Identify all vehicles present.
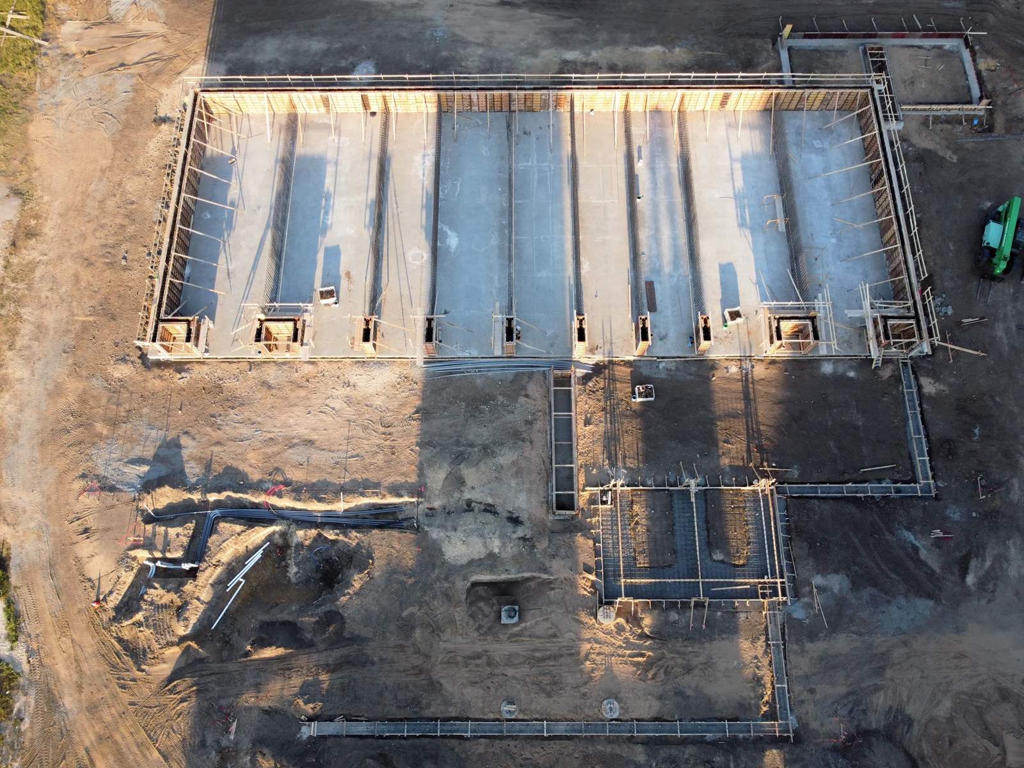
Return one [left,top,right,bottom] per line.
[971,197,1024,297]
